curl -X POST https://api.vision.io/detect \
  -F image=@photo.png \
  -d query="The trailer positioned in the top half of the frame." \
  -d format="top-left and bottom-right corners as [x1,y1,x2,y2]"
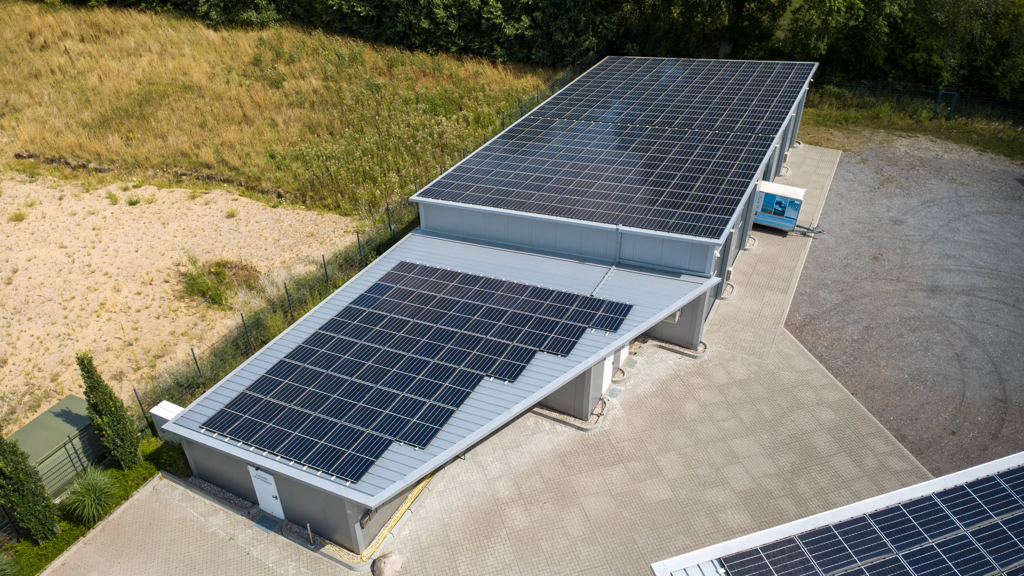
[755,180,830,236]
